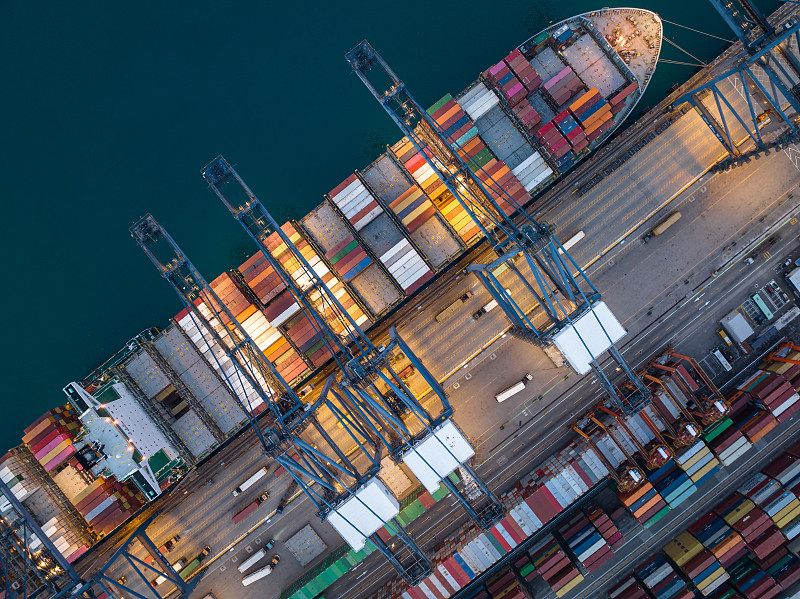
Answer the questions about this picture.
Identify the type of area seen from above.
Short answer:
port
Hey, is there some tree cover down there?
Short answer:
No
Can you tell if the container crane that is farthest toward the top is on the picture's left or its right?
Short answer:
right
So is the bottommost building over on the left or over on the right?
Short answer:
right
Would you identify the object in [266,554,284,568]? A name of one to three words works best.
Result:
vehicle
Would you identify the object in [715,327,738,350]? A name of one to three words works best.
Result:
bus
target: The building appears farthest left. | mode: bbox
[720,308,762,345]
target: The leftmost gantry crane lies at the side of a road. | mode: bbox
[0,480,213,599]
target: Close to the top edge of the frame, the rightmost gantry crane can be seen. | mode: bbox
[661,0,800,180]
